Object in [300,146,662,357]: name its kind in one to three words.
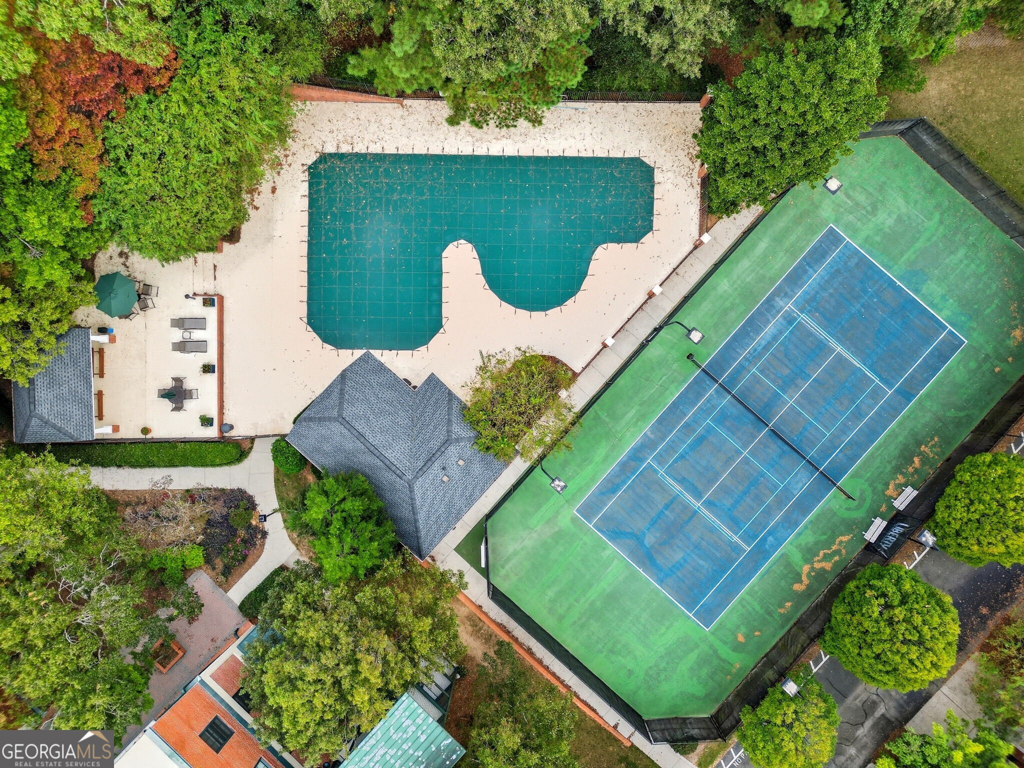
swimming pool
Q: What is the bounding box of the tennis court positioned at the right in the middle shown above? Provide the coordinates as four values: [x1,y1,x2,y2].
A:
[484,134,1024,721]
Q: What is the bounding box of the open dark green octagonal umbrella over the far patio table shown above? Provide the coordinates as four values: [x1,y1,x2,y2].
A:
[94,272,140,318]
